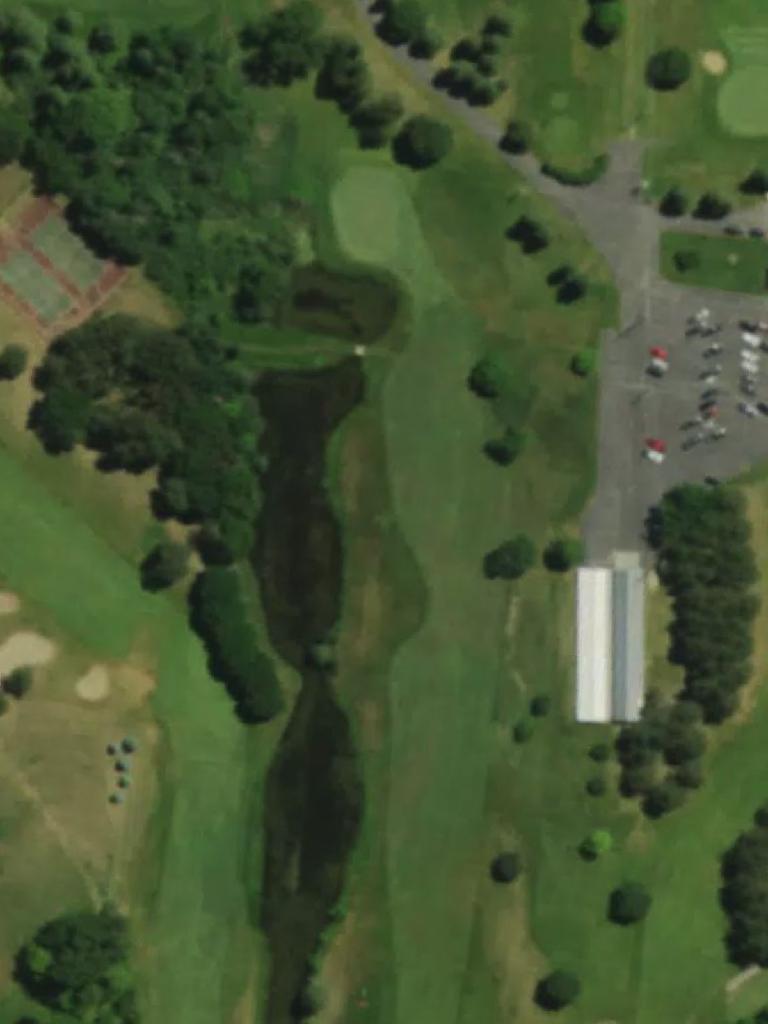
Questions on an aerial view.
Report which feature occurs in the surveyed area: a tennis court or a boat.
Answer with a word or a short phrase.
tennis court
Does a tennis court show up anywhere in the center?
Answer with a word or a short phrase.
No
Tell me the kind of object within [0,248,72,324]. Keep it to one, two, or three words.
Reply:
tennis court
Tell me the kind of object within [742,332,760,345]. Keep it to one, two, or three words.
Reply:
vehicle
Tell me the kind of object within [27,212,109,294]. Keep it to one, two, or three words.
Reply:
tennis court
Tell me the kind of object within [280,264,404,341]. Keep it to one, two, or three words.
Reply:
pond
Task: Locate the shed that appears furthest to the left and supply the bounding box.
[577,568,611,722]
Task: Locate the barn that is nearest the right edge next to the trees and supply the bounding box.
[614,567,644,722]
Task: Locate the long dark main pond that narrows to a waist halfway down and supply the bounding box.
[253,357,367,1024]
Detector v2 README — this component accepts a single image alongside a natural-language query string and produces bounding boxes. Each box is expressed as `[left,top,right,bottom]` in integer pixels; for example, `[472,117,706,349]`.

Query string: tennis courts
[27,212,109,294]
[0,248,72,324]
